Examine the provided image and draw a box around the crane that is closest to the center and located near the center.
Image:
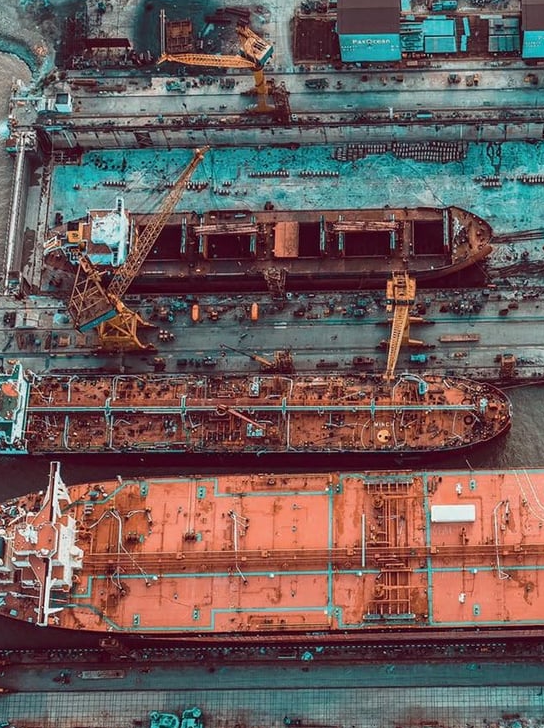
[225,339,295,371]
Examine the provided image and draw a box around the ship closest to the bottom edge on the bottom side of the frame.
[0,460,544,648]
